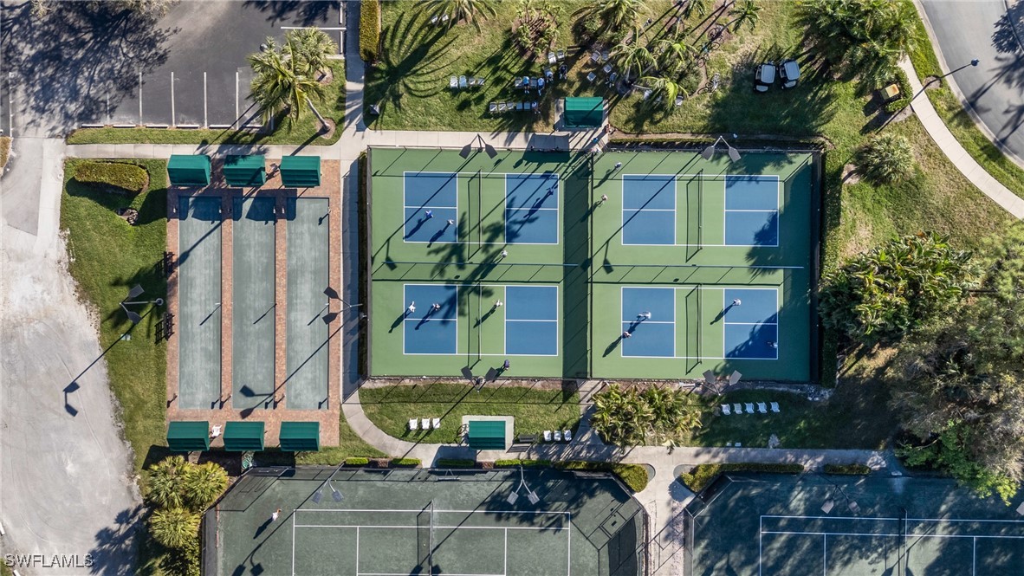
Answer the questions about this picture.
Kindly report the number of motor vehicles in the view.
two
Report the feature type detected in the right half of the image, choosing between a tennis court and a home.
tennis court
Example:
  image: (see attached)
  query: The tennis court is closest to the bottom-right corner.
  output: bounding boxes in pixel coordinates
[686,474,1024,576]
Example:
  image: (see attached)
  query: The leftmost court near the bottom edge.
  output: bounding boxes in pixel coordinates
[216,468,641,576]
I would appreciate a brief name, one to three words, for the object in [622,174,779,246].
sports court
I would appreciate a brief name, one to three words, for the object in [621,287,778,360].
sports court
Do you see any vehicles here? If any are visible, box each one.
[778,59,802,89]
[756,62,777,91]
